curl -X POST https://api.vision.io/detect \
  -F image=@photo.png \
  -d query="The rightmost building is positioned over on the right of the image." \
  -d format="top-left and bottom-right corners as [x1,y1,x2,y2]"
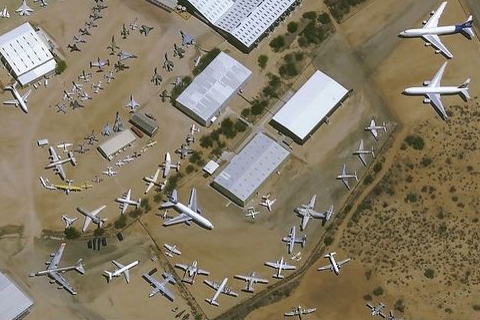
[272,70,348,143]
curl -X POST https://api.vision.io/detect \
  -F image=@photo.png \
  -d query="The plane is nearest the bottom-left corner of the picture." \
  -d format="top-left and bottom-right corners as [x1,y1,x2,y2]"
[29,239,87,299]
